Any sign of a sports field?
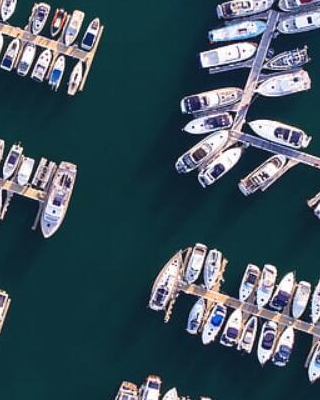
No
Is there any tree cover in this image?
No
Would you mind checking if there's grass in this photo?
No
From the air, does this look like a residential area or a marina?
marina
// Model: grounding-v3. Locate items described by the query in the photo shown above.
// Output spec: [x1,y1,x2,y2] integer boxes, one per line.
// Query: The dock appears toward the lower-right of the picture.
[162,250,320,369]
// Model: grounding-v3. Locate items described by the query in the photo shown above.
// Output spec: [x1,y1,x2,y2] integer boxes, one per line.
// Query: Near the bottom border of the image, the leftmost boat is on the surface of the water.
[115,378,138,400]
